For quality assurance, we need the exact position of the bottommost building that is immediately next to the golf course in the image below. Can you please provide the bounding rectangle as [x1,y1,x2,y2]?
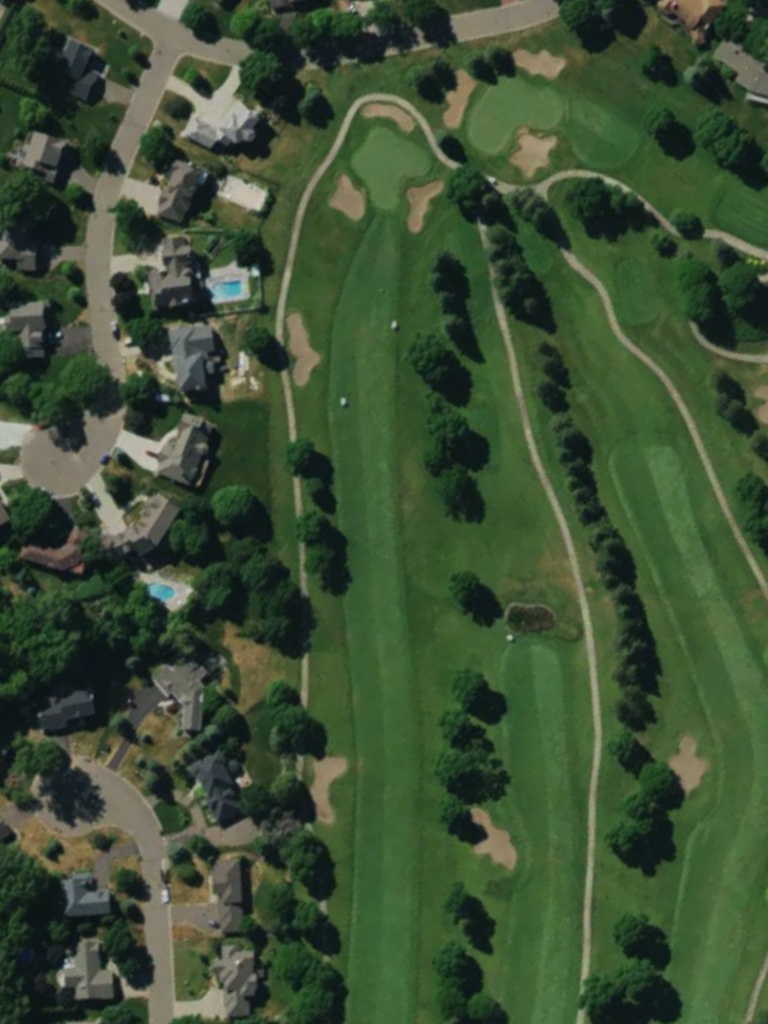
[208,944,261,1018]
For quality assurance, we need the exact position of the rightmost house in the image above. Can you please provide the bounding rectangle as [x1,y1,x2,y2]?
[709,42,768,101]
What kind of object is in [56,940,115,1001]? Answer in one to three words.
house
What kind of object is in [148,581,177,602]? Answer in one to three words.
swimming pool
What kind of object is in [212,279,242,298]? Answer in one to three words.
swimming pool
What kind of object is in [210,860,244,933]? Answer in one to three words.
house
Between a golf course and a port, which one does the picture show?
golf course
